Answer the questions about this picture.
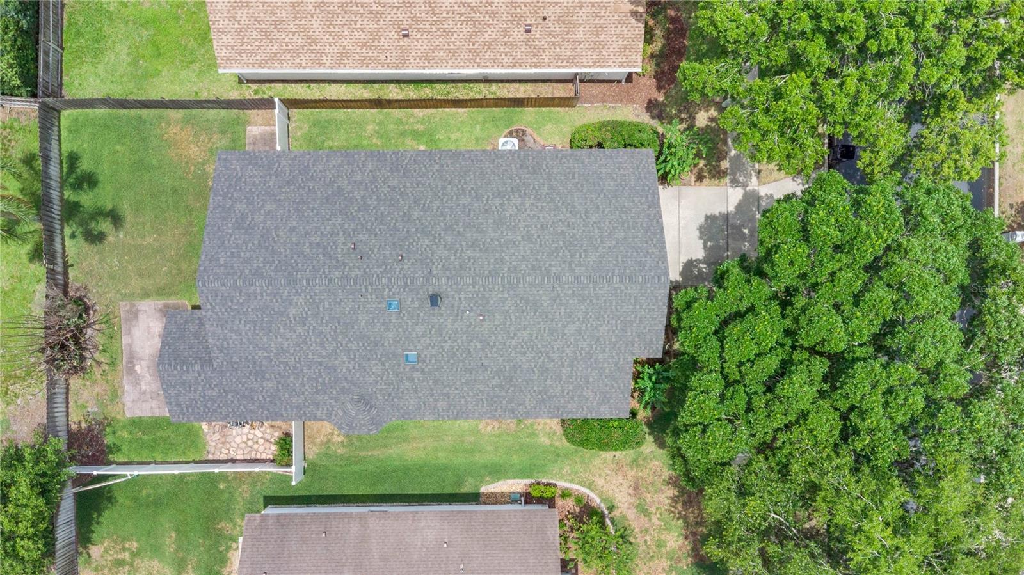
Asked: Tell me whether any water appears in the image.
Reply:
No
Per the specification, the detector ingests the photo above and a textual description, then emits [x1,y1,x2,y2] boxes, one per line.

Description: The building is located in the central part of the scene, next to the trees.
[157,149,671,433]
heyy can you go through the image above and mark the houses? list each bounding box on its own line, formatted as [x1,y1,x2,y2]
[157,149,671,433]
[236,500,561,575]
[206,0,646,84]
